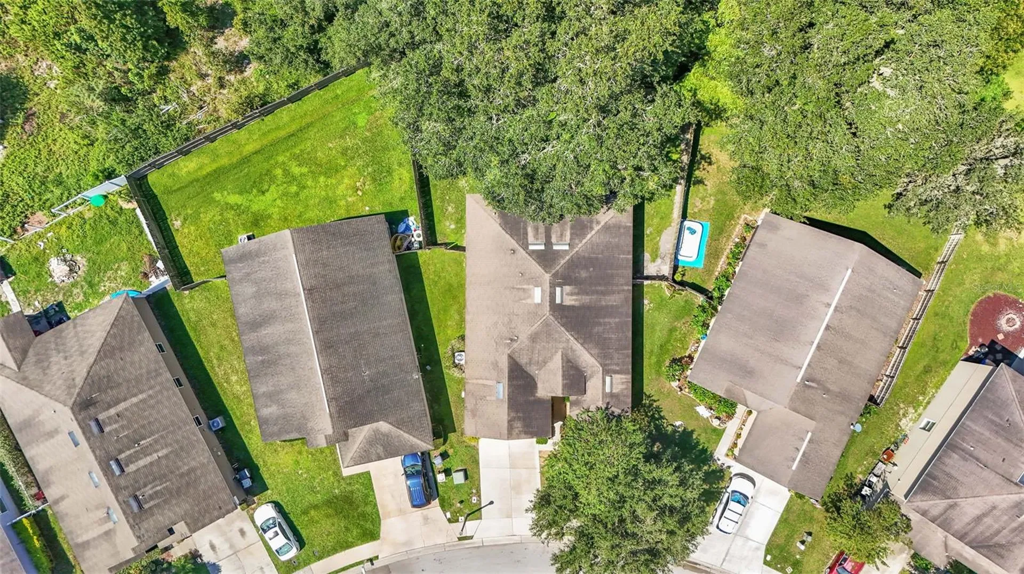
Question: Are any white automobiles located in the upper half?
No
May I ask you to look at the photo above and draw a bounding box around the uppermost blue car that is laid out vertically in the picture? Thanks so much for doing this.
[402,452,433,512]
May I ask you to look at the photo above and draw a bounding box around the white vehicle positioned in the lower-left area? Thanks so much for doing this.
[259,501,298,562]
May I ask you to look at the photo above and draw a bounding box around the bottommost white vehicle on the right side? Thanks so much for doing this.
[713,474,754,536]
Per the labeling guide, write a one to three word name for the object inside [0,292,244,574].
house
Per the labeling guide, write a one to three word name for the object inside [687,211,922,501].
house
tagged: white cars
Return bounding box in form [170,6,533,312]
[713,474,754,536]
[259,501,298,562]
